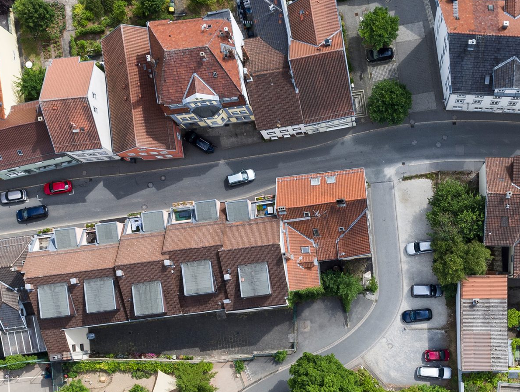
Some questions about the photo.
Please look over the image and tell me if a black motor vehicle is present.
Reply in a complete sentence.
Yes, you can see a black motor vehicle in this photo.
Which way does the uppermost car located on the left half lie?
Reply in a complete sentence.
The uppermost car located on the left half has been laid out on a diagonal relative to the frame.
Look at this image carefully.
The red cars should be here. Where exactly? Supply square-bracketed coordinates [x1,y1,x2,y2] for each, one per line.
[45,180,74,194]
[424,348,450,363]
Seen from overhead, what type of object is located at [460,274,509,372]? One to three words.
building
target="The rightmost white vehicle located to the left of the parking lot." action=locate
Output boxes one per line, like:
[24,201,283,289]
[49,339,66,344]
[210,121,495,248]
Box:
[225,169,257,186]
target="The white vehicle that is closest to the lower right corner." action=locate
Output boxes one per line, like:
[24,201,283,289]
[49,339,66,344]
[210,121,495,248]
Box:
[417,366,451,379]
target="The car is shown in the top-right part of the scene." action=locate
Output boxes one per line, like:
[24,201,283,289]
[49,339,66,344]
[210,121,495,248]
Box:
[366,47,394,62]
